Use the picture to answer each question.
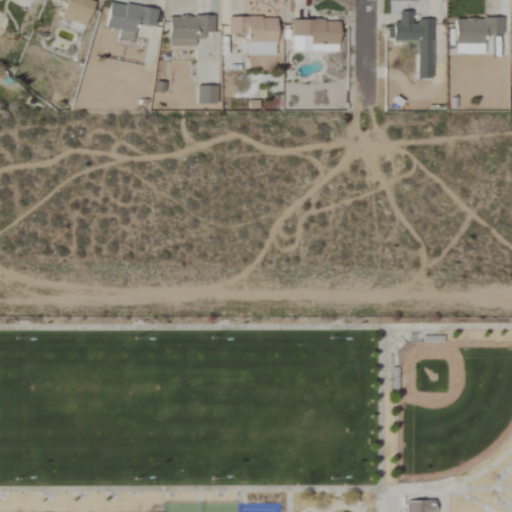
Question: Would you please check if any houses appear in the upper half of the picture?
Yes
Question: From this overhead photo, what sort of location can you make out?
sports ground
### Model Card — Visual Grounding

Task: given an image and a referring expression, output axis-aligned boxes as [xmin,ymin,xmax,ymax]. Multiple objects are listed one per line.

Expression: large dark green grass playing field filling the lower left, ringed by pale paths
[0,330,378,486]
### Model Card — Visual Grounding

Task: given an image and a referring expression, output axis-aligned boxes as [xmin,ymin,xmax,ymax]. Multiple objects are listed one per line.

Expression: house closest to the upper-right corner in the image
[457,16,507,54]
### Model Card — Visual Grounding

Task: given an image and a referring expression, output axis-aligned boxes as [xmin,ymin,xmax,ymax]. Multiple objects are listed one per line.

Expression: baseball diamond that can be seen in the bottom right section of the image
[399,342,512,482]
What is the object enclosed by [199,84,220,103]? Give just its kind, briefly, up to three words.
building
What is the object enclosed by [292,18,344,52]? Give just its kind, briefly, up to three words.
house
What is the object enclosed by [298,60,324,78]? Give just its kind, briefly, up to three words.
swimming pool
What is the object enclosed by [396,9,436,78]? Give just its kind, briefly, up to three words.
house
